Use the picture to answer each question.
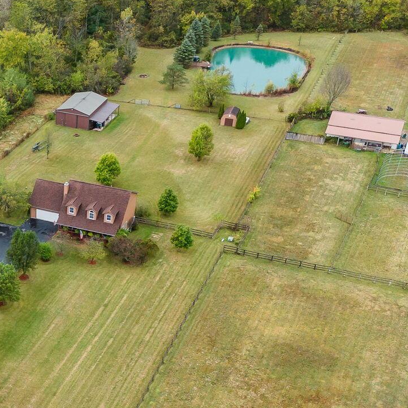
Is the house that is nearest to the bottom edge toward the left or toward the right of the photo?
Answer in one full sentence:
The house that is nearest to the bottom edge appears in the left half of the scene.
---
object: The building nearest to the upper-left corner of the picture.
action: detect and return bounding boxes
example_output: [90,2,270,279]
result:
[56,90,117,134]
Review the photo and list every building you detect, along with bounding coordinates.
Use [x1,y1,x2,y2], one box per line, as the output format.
[33,180,149,247]
[56,90,117,134]
[327,109,403,153]
[220,108,238,127]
